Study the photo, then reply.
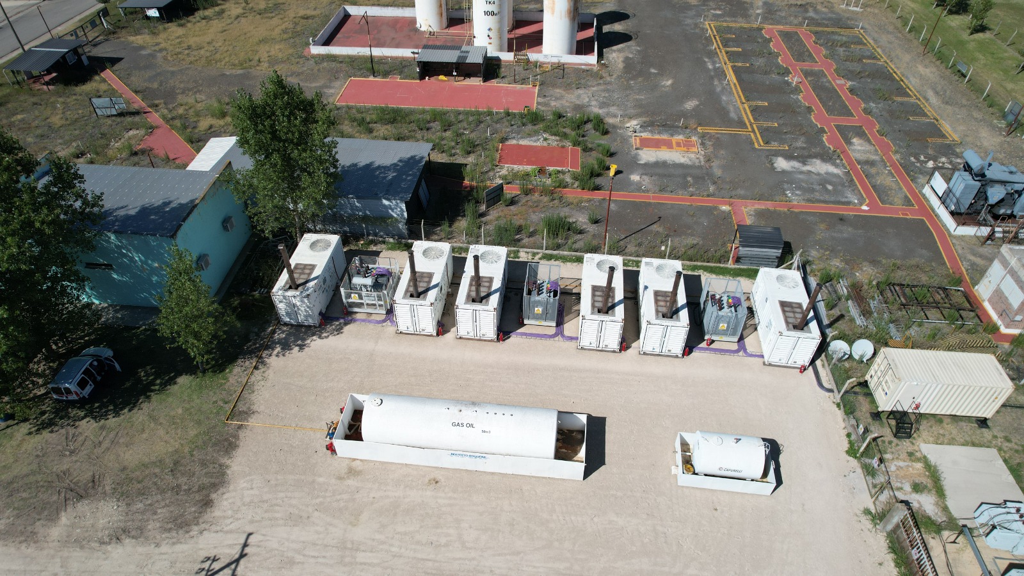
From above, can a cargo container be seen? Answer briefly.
Yes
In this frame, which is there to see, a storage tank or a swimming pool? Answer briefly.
storage tank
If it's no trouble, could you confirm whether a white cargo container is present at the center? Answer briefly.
Yes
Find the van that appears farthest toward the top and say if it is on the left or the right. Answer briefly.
left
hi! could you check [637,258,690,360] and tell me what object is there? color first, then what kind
white shipping container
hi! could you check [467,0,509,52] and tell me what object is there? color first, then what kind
white storage tank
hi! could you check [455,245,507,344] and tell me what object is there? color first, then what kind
white shipping container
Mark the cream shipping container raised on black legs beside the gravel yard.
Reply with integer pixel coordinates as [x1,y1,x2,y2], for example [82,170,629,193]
[857,347,1015,430]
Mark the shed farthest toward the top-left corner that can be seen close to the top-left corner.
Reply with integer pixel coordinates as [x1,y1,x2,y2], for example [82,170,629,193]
[3,38,91,92]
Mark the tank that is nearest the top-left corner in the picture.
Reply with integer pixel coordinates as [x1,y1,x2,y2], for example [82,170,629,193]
[417,0,455,30]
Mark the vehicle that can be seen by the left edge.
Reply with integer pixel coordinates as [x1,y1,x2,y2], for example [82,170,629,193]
[50,342,124,404]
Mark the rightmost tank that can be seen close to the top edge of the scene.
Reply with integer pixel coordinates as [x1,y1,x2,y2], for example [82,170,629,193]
[542,0,580,55]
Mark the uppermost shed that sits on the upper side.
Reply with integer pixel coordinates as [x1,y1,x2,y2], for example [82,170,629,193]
[118,0,181,28]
